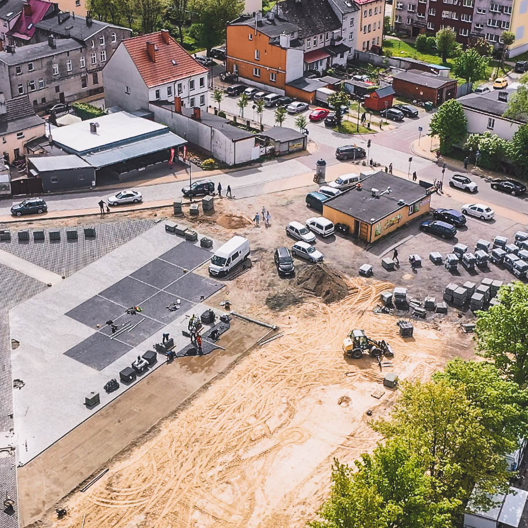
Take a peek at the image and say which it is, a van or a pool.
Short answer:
van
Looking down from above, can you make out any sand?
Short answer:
Yes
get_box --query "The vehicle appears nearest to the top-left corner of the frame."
[42,101,73,117]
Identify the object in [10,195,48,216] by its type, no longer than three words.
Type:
car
